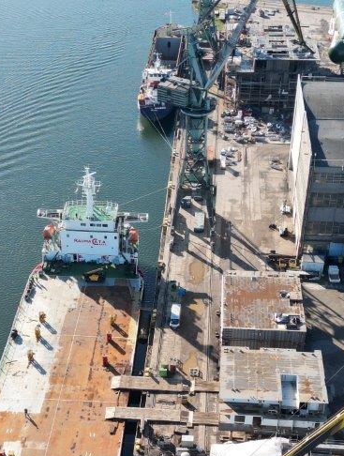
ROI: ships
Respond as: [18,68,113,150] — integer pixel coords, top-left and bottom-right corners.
[0,163,149,456]
[140,0,181,128]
